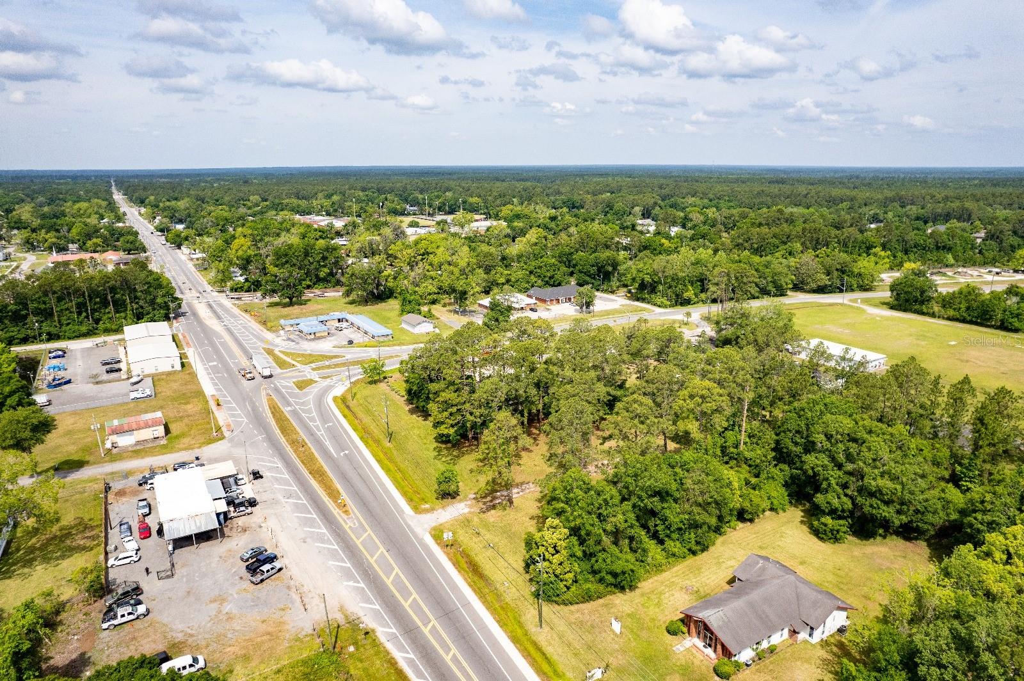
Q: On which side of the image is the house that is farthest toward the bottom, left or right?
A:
right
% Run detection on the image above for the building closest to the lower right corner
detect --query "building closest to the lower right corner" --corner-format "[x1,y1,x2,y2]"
[673,553,860,670]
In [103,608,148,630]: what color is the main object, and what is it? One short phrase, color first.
white truck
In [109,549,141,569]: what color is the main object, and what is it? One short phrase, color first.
white car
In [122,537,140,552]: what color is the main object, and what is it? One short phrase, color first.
white car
